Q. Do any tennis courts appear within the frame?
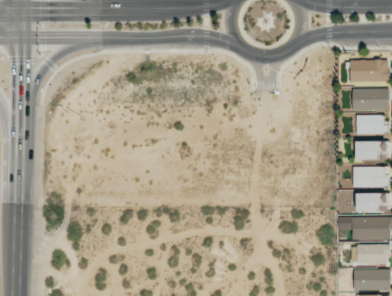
No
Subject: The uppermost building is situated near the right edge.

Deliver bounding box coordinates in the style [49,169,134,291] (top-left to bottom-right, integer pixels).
[346,58,390,81]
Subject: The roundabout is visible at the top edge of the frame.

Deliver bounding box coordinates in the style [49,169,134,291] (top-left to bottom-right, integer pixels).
[226,0,308,63]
